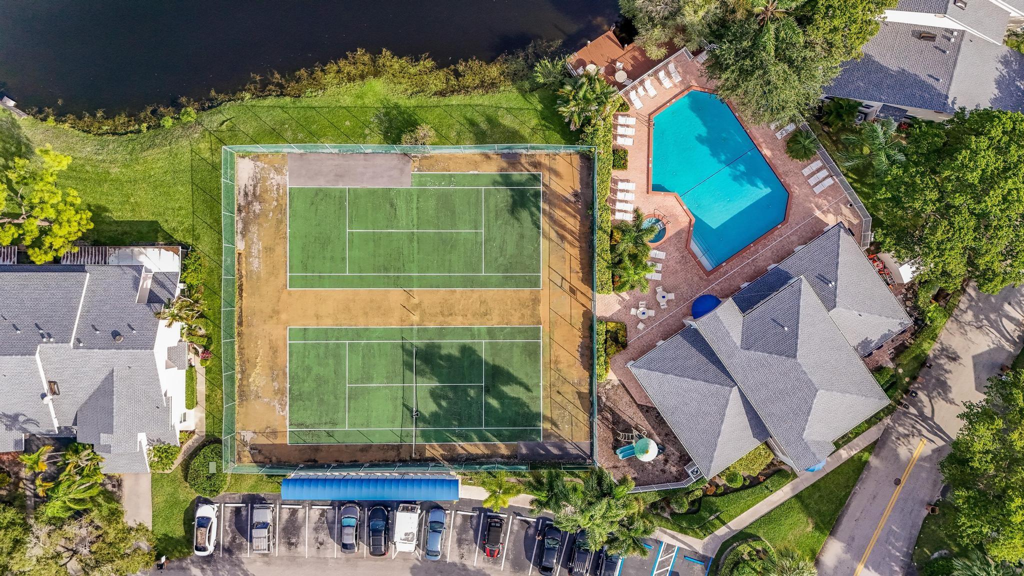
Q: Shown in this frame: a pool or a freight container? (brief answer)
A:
pool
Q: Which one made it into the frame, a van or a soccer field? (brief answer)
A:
van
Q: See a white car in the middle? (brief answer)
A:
No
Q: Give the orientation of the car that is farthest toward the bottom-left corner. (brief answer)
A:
from top to bottom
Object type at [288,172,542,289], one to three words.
tennis court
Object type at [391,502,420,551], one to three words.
van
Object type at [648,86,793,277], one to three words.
swimming pool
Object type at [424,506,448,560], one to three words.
car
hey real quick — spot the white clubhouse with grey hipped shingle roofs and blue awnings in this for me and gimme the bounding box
[622,221,913,479]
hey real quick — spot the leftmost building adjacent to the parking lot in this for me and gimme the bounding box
[0,246,194,473]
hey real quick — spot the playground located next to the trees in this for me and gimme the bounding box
[595,374,707,492]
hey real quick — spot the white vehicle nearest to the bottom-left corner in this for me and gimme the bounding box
[192,500,219,555]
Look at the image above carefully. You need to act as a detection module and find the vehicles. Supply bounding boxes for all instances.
[424,506,448,560]
[365,504,390,557]
[391,502,420,551]
[192,500,219,555]
[249,502,277,554]
[536,521,562,576]
[565,530,592,576]
[481,515,505,557]
[337,501,362,553]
